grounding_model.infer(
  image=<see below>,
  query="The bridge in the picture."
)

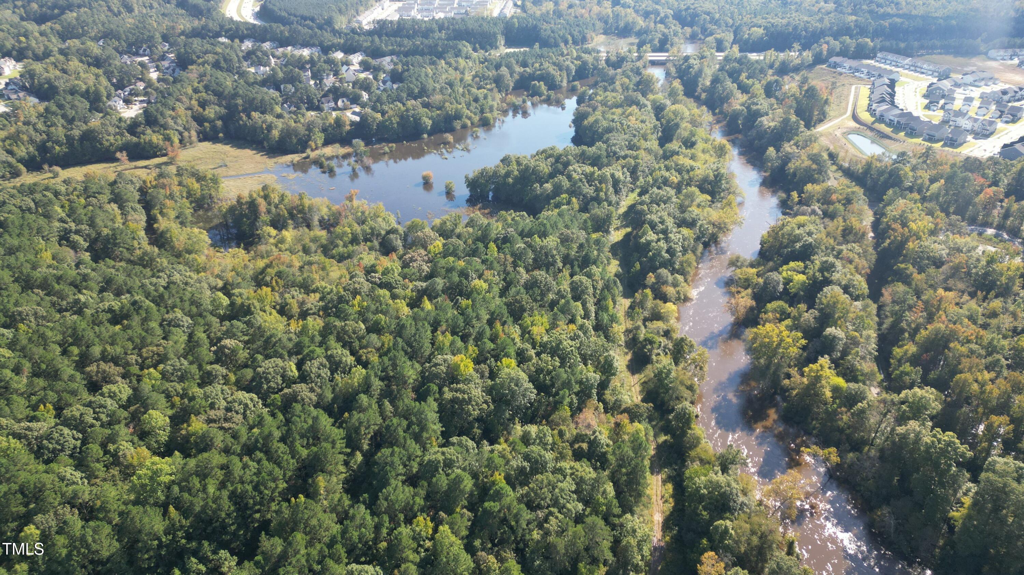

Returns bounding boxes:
[596,51,791,65]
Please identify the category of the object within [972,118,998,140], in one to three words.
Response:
house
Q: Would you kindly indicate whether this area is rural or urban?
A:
rural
